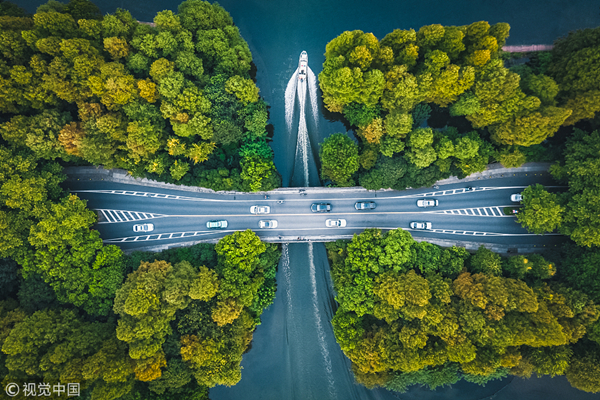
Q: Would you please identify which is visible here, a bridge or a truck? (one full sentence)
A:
It is a bridge that can be seen here.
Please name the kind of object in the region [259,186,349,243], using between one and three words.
bridge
